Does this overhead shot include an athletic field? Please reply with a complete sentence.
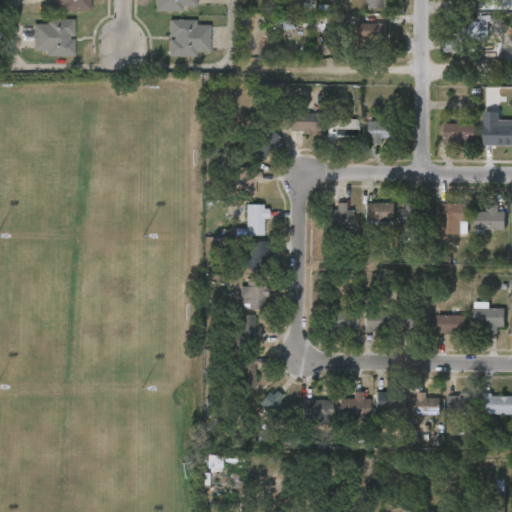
Yes, an athletic field can be made out from above.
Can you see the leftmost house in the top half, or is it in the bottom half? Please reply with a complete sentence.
It is in the top half that the leftmost house appears.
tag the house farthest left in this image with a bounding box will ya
[34,20,76,56]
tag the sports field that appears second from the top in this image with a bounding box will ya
[0,236,200,388]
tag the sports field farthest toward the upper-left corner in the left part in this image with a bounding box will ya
[0,80,200,236]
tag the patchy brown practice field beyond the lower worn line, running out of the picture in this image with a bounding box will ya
[0,388,200,512]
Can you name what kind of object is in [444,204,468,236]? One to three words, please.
house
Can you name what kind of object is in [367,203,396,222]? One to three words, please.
house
